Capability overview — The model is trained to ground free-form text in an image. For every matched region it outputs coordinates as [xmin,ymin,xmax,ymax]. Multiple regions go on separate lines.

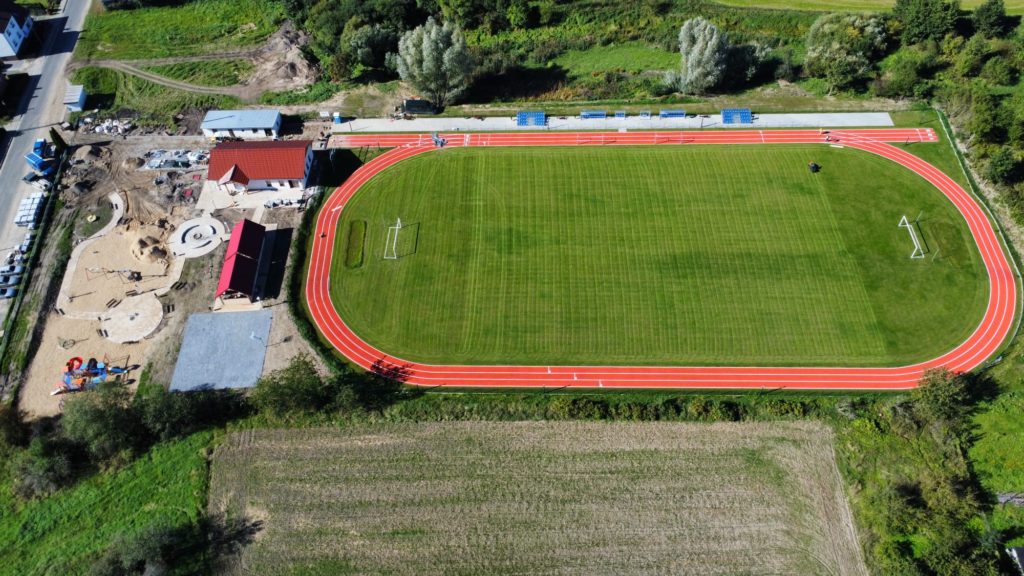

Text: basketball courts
[169,310,272,391]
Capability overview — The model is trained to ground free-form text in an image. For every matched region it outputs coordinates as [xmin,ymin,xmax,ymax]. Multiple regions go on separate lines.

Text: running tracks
[307,129,1016,389]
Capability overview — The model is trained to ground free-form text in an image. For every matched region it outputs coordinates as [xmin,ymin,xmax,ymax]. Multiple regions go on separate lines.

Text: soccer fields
[328,143,990,368]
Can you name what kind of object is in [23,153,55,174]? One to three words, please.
truck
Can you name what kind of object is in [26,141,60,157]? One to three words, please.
vehicle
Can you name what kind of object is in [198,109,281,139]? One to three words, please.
building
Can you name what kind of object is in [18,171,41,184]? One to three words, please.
vehicle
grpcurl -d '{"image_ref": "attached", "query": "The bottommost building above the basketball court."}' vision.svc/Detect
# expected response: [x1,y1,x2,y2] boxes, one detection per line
[217,218,267,303]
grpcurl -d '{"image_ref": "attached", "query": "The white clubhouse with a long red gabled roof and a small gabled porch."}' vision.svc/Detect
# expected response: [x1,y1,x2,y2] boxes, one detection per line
[207,142,315,195]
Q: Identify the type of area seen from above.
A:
sports ground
